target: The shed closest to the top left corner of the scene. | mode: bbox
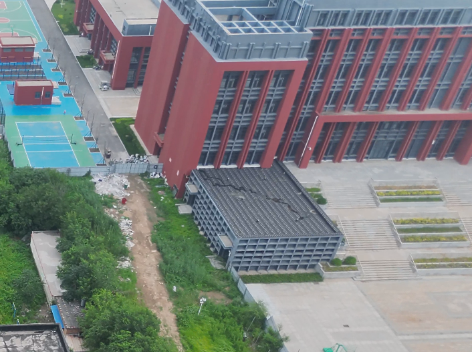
[0,34,45,63]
